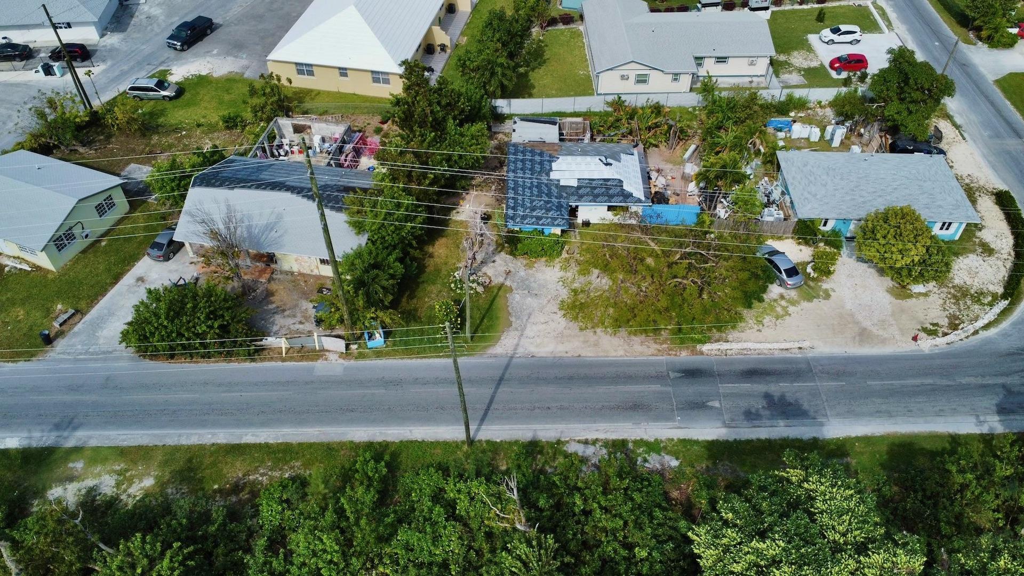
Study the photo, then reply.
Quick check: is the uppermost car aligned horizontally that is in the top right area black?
No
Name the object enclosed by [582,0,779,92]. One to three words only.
house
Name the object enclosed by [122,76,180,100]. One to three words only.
vehicle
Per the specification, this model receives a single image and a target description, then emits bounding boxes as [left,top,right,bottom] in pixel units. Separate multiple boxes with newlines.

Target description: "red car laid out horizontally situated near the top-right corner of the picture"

[829,51,871,70]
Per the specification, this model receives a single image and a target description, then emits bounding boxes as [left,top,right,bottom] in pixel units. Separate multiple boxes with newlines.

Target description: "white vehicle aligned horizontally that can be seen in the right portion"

[820,24,865,45]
